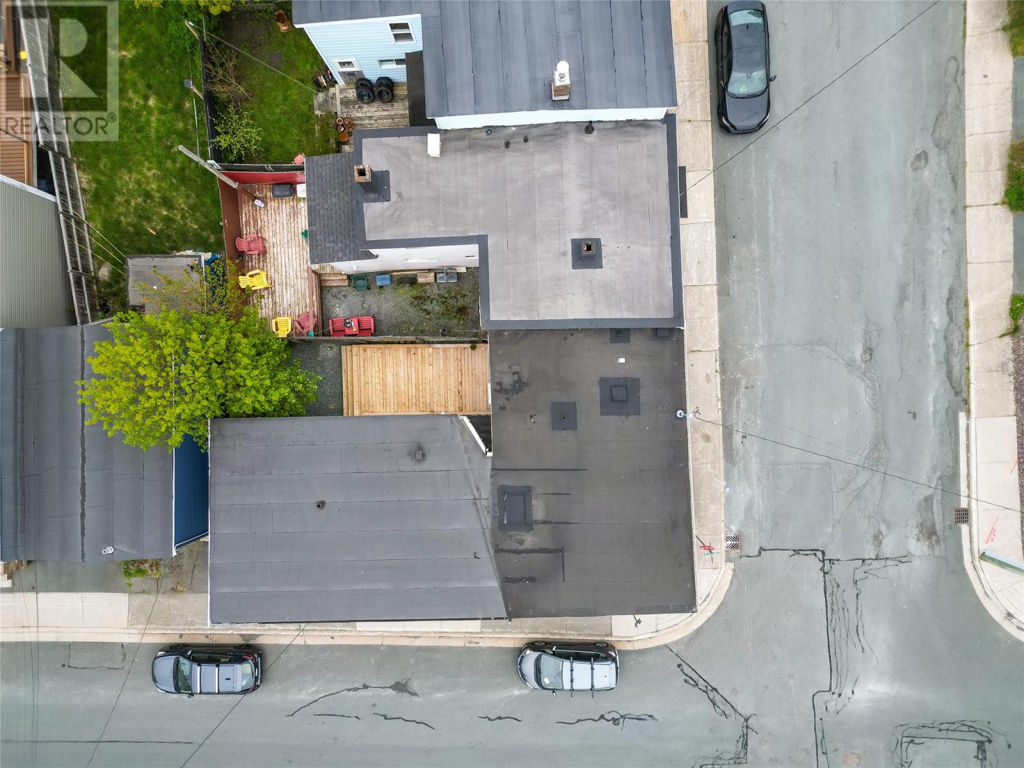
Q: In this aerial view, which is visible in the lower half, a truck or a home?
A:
home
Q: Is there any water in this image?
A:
No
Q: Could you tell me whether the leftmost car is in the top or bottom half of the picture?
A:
bottom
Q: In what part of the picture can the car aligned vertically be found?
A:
top right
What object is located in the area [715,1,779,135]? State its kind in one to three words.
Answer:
car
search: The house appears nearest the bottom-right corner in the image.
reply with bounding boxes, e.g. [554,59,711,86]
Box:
[484,328,700,619]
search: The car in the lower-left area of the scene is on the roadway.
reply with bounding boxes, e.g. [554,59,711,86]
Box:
[151,645,263,701]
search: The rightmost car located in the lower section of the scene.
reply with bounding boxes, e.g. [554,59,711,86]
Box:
[517,641,620,700]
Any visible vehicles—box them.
[151,645,263,701]
[517,641,620,700]
[715,1,779,135]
